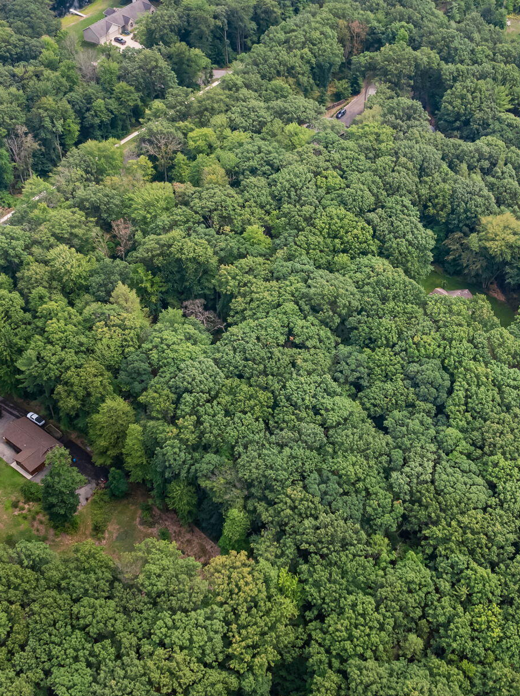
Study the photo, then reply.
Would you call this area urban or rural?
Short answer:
rural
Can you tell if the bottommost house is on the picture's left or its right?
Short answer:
left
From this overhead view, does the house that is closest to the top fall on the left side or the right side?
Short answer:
left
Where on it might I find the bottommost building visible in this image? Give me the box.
[1,418,63,481]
